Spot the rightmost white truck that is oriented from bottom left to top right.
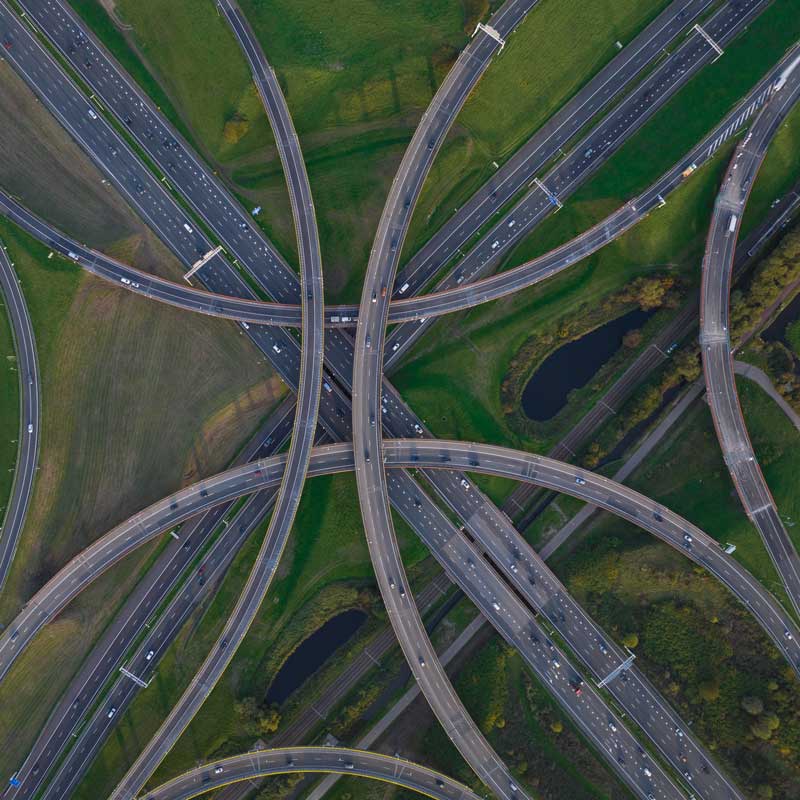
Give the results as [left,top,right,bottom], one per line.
[775,60,800,91]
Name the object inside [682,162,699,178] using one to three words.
vehicle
